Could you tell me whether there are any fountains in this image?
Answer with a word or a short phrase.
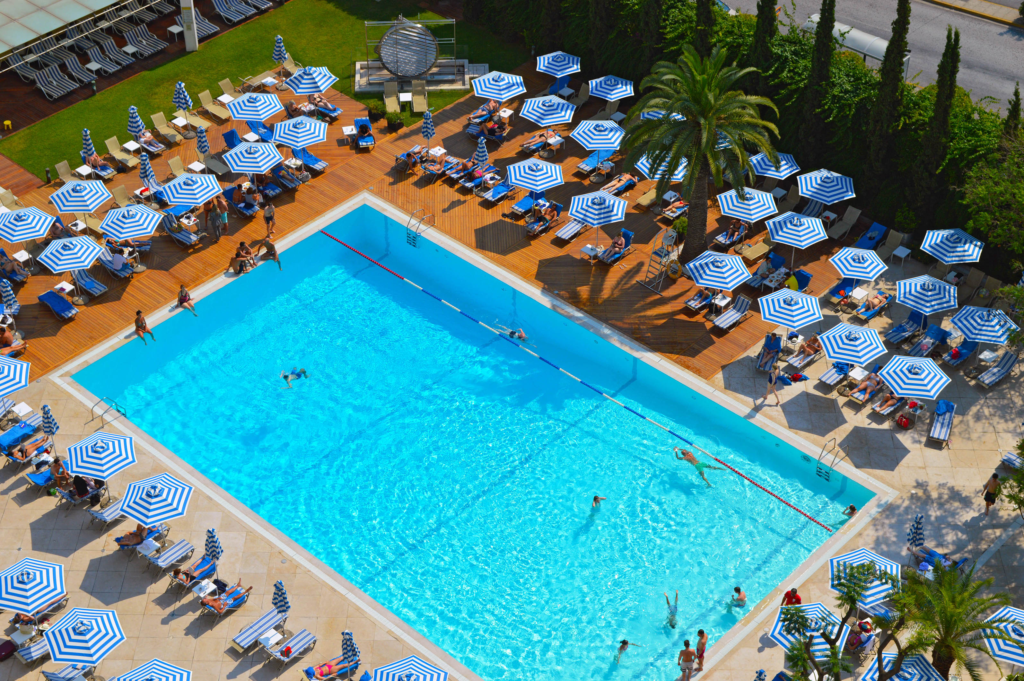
Yes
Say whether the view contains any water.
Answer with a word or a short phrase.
Yes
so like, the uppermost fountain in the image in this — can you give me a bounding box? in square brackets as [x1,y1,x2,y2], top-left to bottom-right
[353,14,493,94]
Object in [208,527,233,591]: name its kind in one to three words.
umbrella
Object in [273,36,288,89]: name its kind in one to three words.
umbrella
